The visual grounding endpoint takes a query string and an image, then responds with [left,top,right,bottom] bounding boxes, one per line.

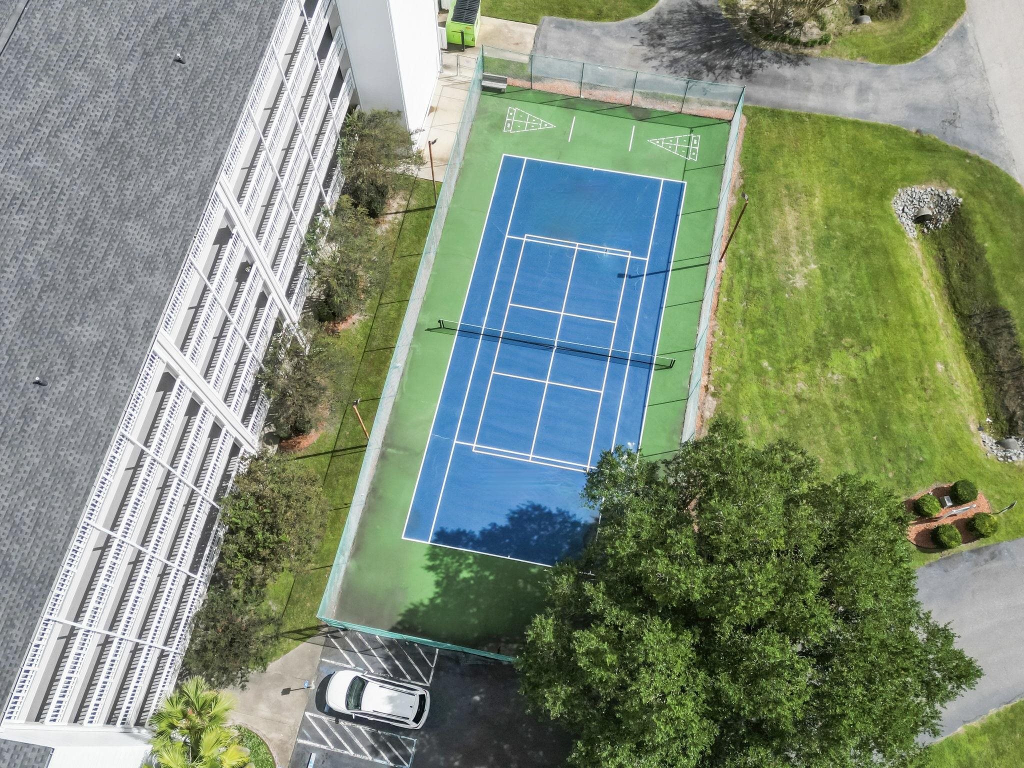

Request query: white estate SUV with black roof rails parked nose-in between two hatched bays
[324,670,430,730]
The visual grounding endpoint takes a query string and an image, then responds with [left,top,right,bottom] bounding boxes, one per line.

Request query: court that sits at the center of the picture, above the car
[333,85,732,672]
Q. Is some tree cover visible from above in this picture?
Yes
